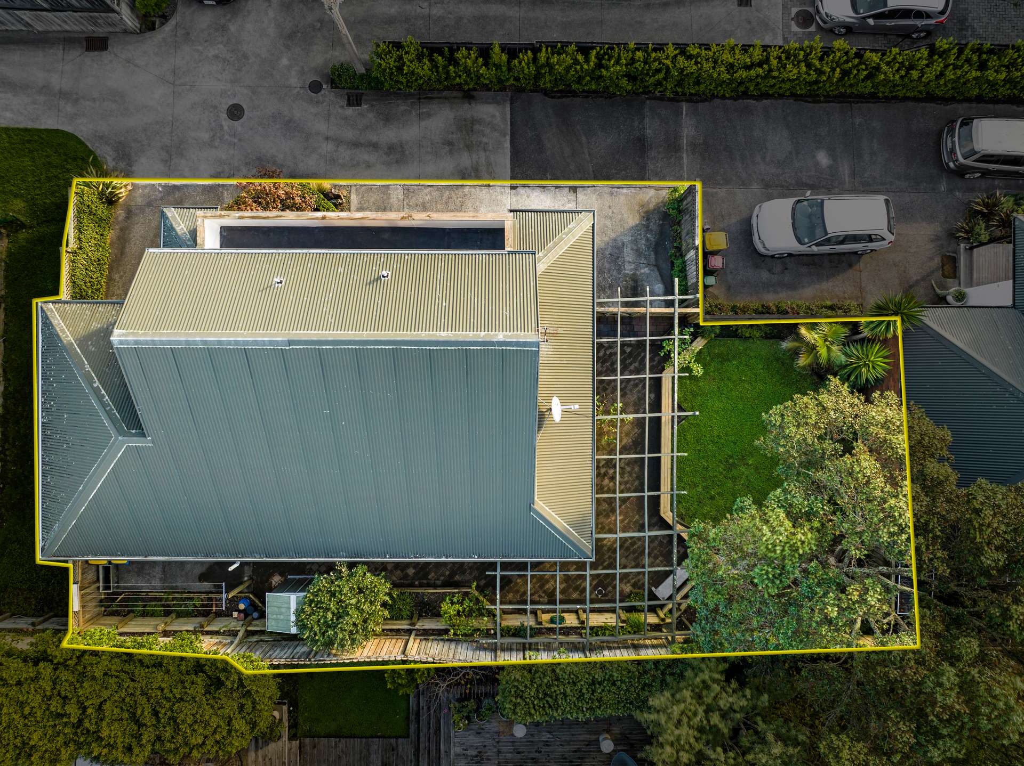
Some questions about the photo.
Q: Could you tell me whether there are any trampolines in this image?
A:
No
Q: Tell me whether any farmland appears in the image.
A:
No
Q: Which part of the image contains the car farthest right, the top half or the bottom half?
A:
top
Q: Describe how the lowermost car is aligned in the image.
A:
horizontally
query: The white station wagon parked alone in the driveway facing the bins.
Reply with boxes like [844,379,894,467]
[749,187,898,258]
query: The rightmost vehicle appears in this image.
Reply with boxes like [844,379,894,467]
[940,112,1024,180]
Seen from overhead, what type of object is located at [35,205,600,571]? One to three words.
house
